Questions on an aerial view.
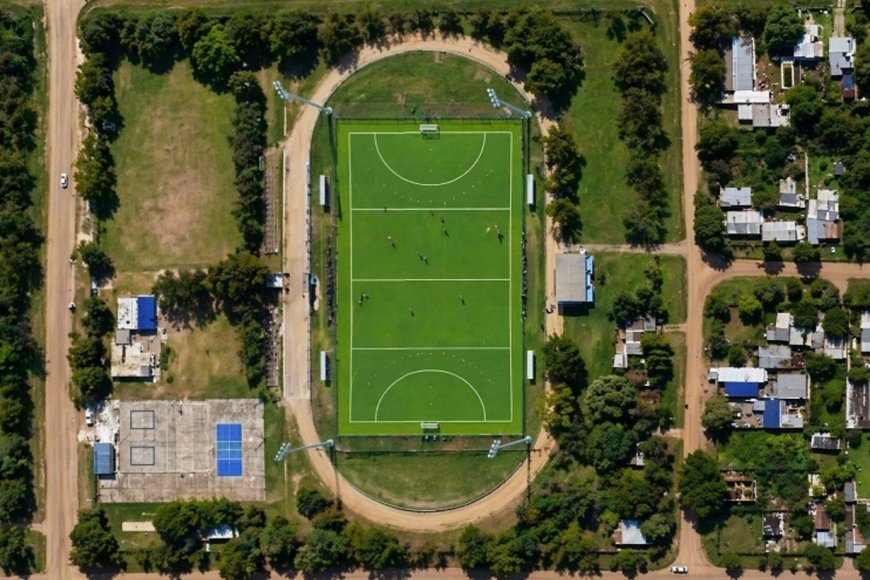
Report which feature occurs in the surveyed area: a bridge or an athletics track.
athletics track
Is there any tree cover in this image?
Yes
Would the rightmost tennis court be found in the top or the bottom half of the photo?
bottom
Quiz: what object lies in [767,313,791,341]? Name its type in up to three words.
house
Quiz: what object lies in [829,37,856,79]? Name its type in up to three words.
house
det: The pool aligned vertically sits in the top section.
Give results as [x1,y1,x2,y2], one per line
[782,60,794,88]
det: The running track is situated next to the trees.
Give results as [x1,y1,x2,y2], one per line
[285,30,564,532]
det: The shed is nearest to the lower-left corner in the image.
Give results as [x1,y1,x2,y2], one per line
[94,442,119,475]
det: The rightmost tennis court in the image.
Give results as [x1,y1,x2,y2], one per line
[217,424,242,476]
